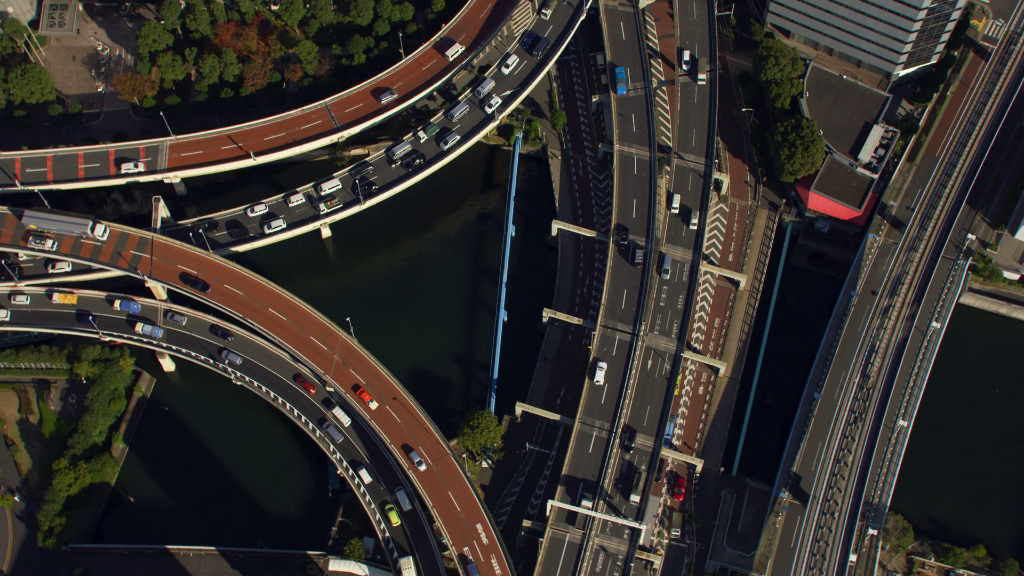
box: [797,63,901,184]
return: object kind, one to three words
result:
building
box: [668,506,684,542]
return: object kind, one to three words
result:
vehicle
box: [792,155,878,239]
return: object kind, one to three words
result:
building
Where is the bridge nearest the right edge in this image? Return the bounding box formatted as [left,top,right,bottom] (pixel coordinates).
[747,0,1024,576]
